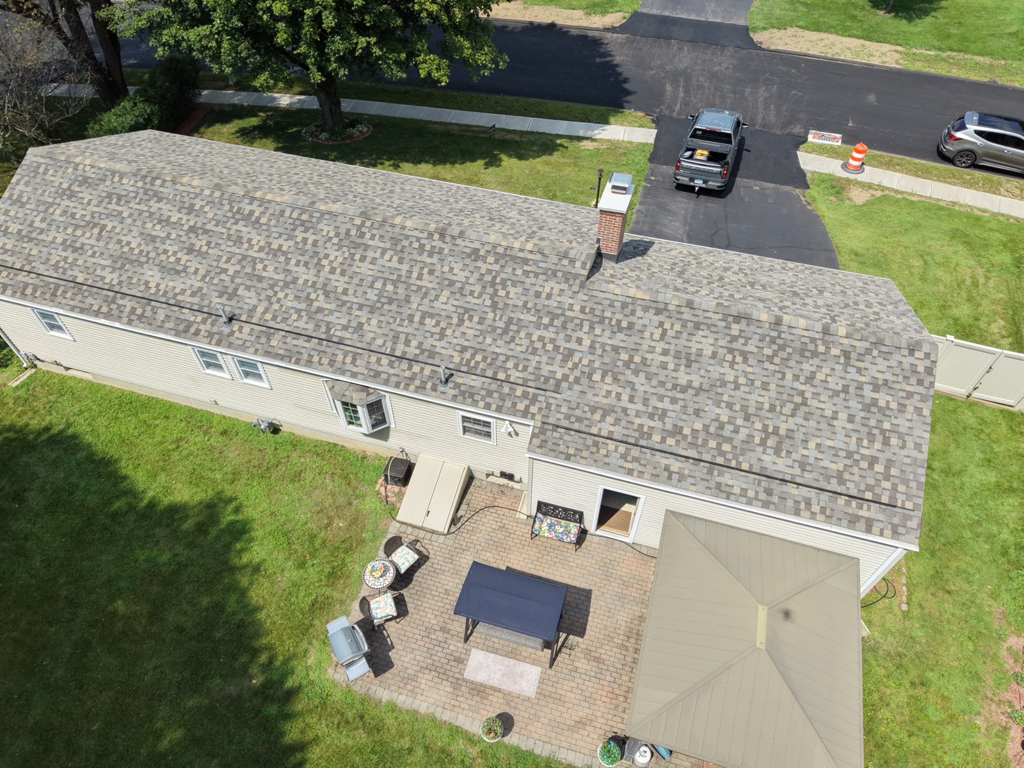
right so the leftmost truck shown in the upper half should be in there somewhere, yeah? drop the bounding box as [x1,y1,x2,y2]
[675,101,750,194]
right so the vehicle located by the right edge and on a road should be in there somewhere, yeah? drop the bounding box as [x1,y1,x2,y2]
[939,114,1024,180]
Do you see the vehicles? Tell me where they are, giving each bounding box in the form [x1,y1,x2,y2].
[939,114,1024,180]
[675,101,750,194]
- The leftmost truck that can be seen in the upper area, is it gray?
Yes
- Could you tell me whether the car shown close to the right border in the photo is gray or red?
gray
